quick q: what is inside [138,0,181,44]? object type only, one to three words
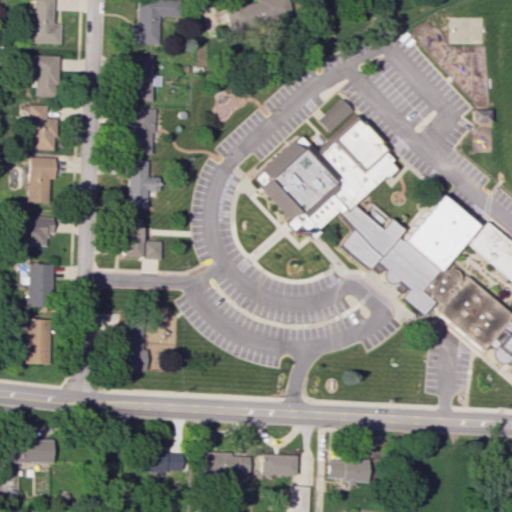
house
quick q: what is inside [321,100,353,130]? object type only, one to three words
building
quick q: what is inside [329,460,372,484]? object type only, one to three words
house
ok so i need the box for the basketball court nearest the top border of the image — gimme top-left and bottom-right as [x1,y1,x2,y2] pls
[448,18,485,45]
